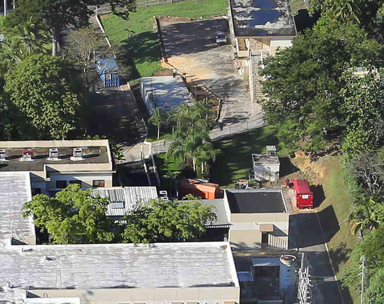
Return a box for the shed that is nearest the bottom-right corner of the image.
[252,267,276,299]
